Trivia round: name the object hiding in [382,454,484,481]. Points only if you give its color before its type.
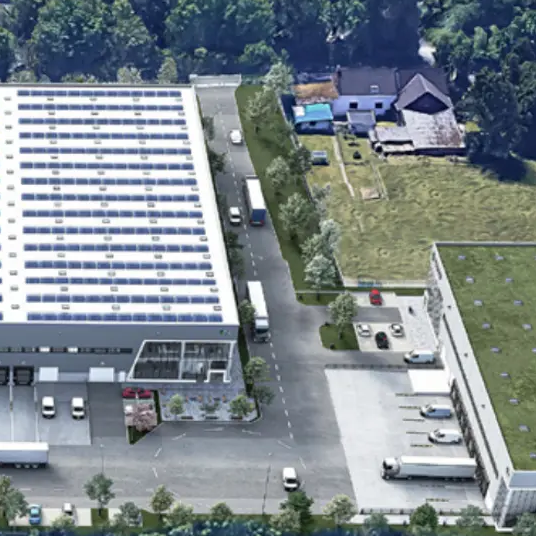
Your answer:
white truck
